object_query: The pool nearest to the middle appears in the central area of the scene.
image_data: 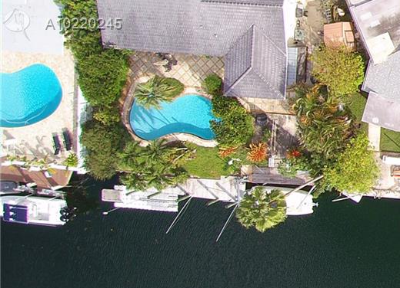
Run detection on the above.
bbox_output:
[125,90,220,144]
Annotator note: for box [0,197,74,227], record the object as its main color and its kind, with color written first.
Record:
white boat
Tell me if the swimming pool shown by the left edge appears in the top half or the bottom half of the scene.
top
